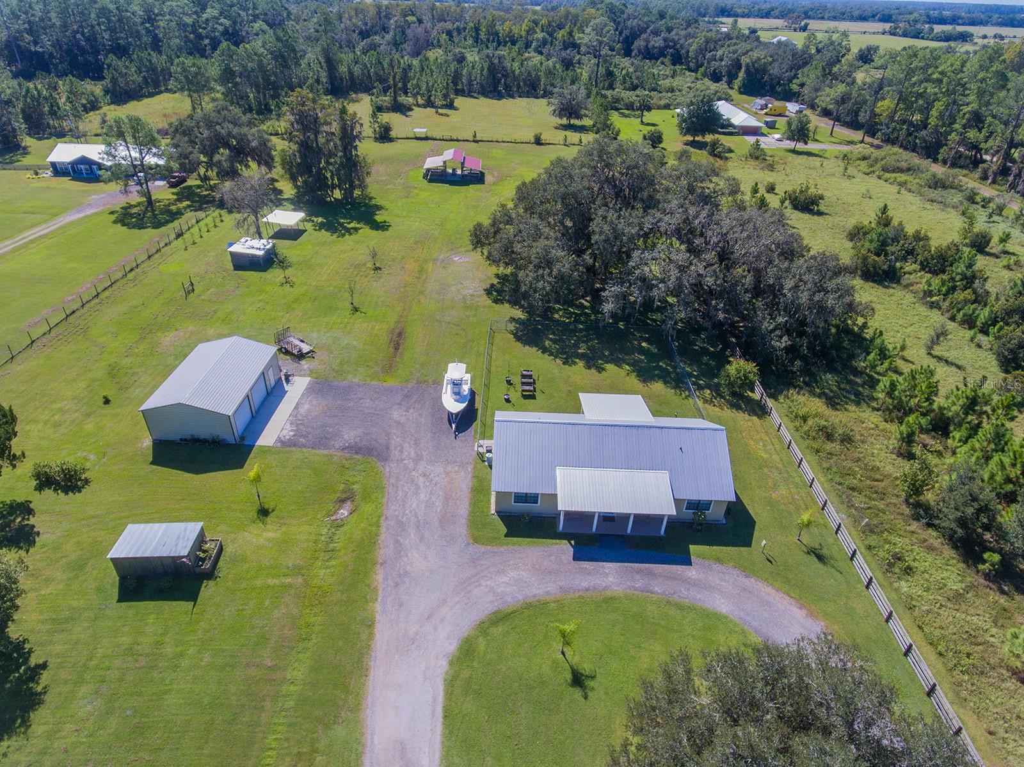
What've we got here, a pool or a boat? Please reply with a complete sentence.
This aerial view contains a boat.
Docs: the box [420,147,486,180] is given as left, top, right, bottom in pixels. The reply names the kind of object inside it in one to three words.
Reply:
building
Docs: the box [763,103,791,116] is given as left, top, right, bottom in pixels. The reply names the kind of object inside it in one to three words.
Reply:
vehicle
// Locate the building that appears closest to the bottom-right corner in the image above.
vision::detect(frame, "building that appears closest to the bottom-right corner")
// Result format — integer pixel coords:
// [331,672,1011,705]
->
[490,393,739,540]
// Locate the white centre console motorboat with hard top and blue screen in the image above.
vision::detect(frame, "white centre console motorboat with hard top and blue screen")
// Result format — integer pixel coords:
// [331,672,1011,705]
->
[444,365,472,413]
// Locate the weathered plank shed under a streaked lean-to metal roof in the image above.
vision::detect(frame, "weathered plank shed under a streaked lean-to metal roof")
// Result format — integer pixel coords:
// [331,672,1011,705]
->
[107,523,205,576]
